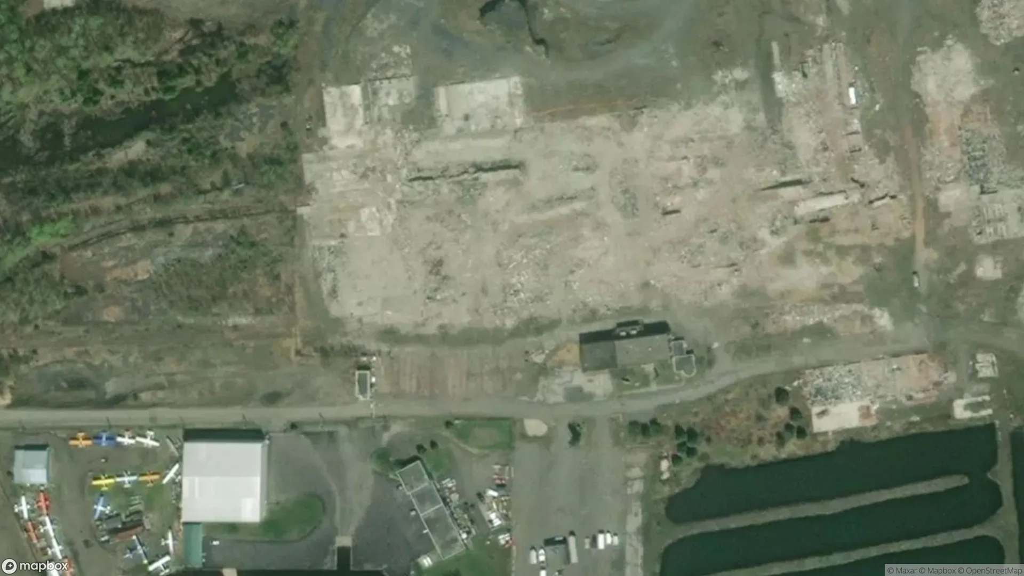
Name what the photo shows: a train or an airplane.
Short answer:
airplane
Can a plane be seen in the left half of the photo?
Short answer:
Yes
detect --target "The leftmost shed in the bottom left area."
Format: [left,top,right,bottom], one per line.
[14,450,50,483]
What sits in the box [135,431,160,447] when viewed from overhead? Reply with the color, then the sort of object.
white airplane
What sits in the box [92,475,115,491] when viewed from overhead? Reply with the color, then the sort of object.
yellow airplane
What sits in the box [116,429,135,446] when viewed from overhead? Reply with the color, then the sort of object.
white airplane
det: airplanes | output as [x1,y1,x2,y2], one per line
[94,497,109,518]
[58,558,76,576]
[138,471,160,487]
[162,463,180,484]
[40,516,57,537]
[116,429,135,446]
[33,492,52,514]
[129,535,148,563]
[161,530,179,553]
[148,556,170,575]
[43,560,59,576]
[135,431,160,447]
[166,438,182,458]
[15,496,33,518]
[92,475,115,491]
[23,522,40,542]
[47,538,65,558]
[116,473,137,488]
[69,433,92,449]
[93,431,115,447]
